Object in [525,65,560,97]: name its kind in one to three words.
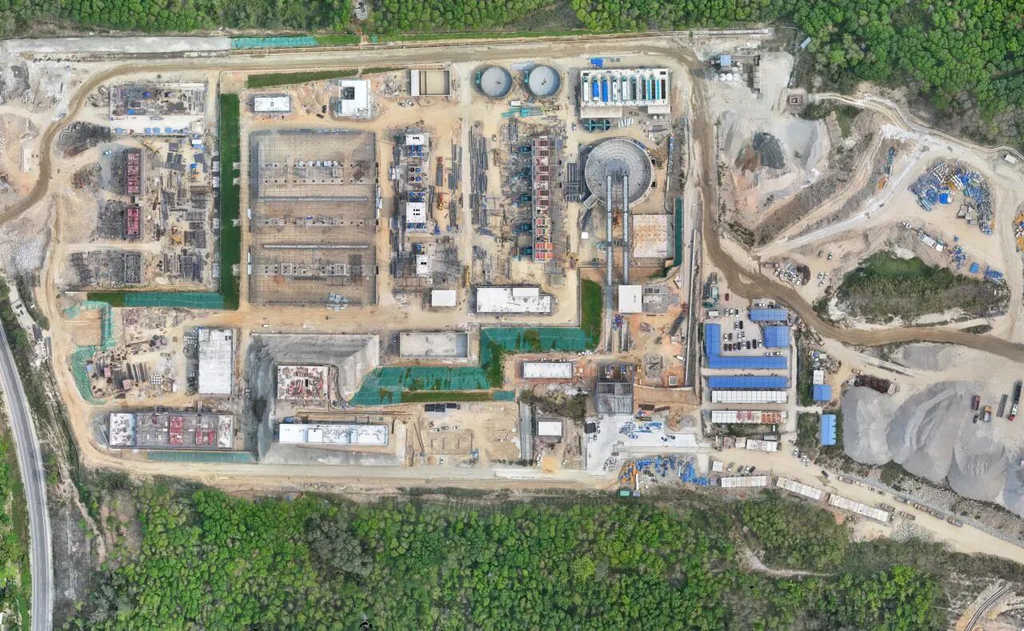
storage tank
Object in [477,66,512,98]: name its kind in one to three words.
storage tank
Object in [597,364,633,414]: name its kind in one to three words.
building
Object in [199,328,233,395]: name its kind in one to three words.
building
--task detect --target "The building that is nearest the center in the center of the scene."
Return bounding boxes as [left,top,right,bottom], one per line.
[476,288,551,312]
